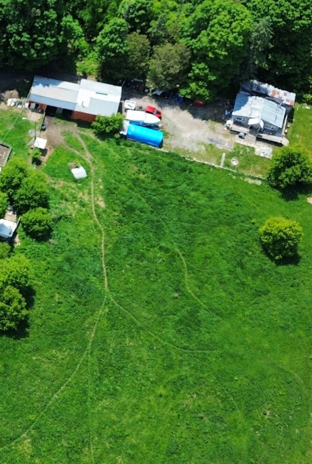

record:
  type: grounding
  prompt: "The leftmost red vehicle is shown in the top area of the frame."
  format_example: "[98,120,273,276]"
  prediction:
[141,104,166,120]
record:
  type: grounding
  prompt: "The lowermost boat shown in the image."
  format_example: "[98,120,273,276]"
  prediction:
[126,126,160,148]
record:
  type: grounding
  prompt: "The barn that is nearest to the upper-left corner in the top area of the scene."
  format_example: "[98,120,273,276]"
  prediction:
[24,75,76,118]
